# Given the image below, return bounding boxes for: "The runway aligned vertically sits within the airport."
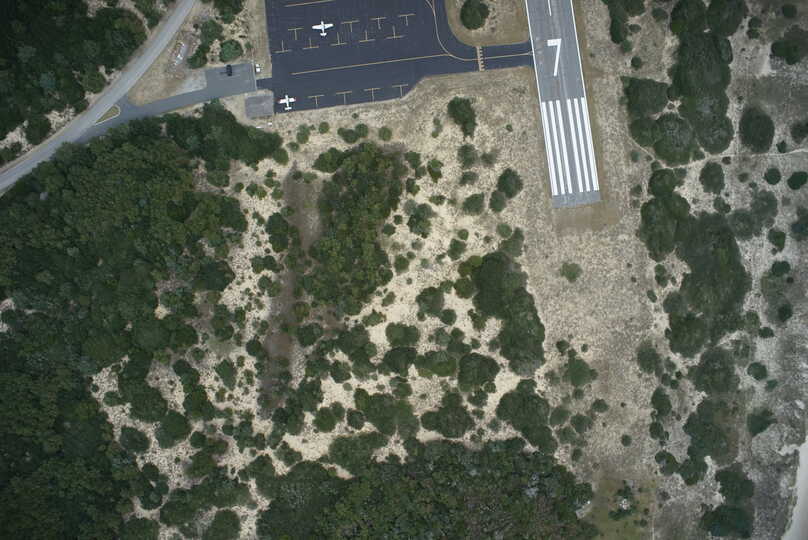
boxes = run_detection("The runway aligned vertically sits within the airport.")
[525,0,598,197]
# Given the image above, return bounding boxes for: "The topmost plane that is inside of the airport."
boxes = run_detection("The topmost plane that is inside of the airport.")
[312,19,334,35]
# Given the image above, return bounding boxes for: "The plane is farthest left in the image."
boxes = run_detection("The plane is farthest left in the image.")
[277,93,297,108]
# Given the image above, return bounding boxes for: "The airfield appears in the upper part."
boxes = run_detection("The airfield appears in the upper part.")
[256,0,600,208]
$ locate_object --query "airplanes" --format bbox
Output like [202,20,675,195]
[277,93,297,108]
[312,19,334,35]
